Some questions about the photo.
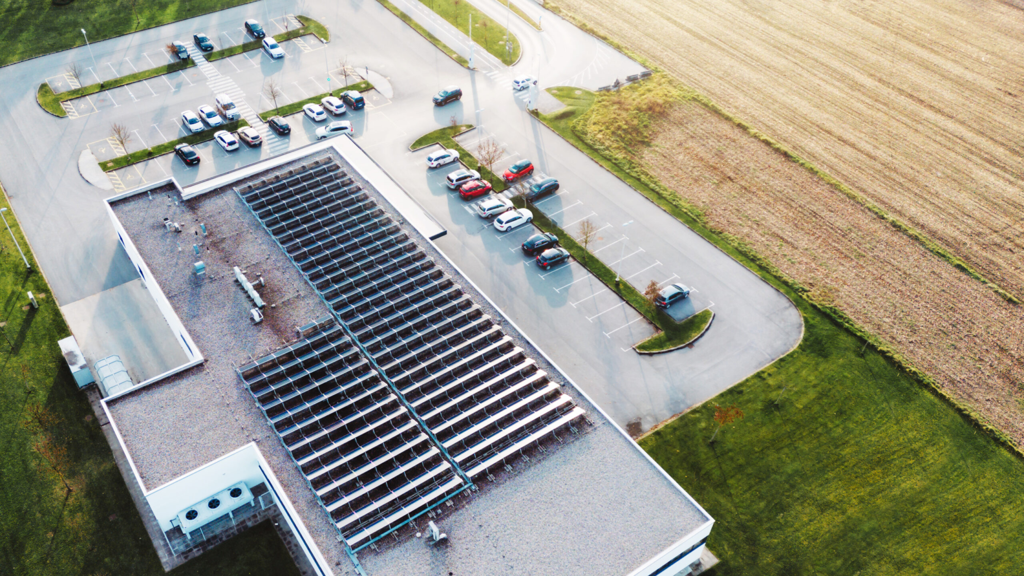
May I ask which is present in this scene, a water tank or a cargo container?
cargo container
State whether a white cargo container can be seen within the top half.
No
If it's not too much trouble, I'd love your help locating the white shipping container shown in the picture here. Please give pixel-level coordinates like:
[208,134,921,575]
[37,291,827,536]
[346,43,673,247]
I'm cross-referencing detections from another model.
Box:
[56,334,97,392]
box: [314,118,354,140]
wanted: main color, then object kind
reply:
white car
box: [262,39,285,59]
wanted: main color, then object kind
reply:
white car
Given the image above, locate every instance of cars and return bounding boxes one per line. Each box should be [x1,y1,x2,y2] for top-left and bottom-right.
[262,39,285,59]
[194,34,216,52]
[243,20,264,38]
[533,247,570,271]
[652,283,691,310]
[457,180,493,202]
[512,75,538,92]
[168,40,189,60]
[214,94,240,120]
[304,104,329,124]
[341,91,367,111]
[322,96,349,117]
[501,160,535,181]
[524,175,562,201]
[179,109,203,131]
[422,149,460,170]
[314,118,354,140]
[236,126,262,148]
[475,198,514,221]
[431,84,463,106]
[490,209,533,234]
[175,144,201,167]
[197,103,222,125]
[270,116,295,136]
[215,131,241,154]
[443,169,481,191]
[519,231,558,257]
